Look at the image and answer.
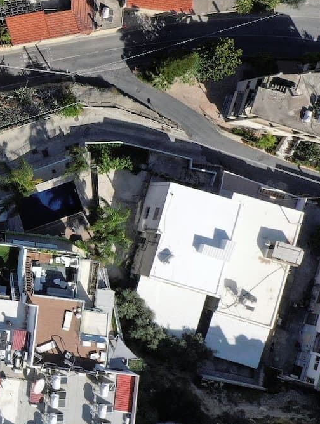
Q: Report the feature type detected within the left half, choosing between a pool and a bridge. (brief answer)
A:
pool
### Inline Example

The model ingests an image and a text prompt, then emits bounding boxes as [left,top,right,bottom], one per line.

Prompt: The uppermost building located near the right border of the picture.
[212,61,320,161]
